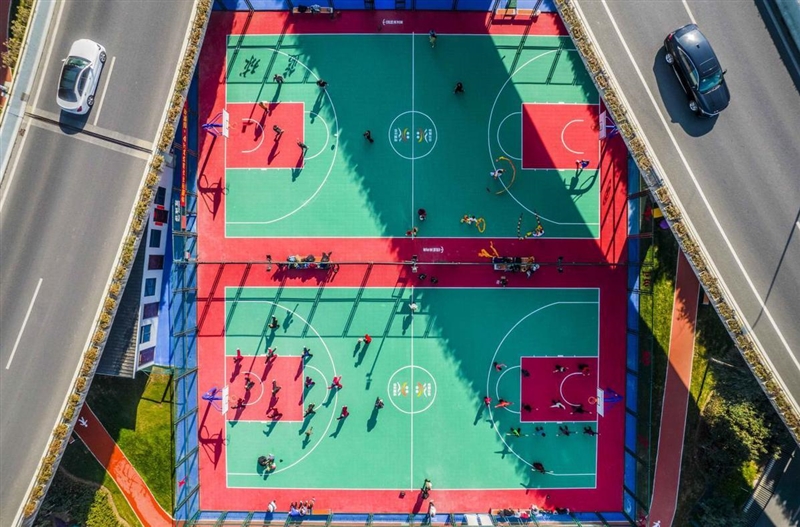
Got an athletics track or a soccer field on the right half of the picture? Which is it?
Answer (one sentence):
There is an athletics track on the right half of the picture.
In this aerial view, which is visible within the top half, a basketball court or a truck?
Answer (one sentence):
The one visible within the top half is a basketball court.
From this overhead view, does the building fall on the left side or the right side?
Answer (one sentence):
The building is on the left side of the image.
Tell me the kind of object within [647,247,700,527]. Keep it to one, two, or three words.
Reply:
running track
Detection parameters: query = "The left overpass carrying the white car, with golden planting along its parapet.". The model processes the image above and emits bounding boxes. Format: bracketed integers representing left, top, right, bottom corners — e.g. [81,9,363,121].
[0,0,216,527]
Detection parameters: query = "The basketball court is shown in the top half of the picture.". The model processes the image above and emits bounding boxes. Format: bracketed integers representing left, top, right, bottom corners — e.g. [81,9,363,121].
[224,31,601,242]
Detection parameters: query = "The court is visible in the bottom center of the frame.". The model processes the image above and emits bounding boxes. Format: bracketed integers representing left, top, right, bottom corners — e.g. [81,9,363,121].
[224,283,599,493]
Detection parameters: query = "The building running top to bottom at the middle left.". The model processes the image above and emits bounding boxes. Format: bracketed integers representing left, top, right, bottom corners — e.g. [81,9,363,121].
[94,155,172,379]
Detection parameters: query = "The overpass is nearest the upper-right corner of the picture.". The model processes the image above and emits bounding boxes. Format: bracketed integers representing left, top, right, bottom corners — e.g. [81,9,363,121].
[548,0,800,451]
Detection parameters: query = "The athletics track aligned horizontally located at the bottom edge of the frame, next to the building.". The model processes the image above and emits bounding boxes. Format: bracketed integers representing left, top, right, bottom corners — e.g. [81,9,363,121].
[73,401,642,527]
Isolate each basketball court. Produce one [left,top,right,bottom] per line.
[224,283,599,493]
[224,31,601,242]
